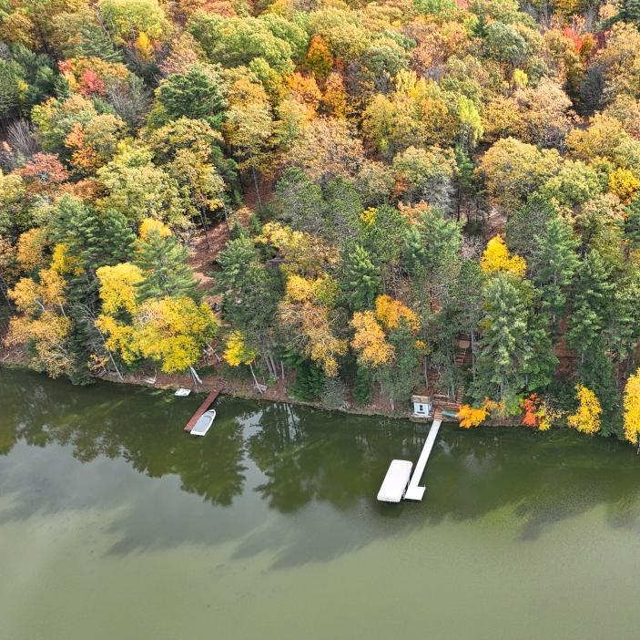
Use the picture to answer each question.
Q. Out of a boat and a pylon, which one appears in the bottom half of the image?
boat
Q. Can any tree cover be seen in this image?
Yes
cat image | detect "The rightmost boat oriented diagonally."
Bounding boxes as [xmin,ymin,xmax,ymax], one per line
[191,409,216,440]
